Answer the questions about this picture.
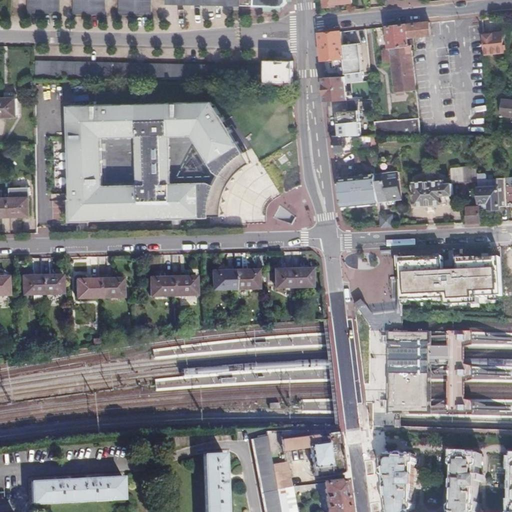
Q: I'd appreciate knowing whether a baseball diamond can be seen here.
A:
No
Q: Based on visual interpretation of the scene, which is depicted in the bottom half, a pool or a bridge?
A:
bridge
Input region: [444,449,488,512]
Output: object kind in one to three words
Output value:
building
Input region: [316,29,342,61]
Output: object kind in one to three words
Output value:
house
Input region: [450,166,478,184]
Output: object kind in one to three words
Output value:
shed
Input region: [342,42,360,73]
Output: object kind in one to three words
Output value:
building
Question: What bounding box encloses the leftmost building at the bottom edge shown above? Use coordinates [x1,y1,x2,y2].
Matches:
[31,475,129,506]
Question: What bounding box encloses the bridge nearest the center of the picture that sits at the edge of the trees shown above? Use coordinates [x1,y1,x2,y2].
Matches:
[324,292,366,429]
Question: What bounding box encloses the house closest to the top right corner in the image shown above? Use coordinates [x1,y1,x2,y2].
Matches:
[482,30,507,56]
